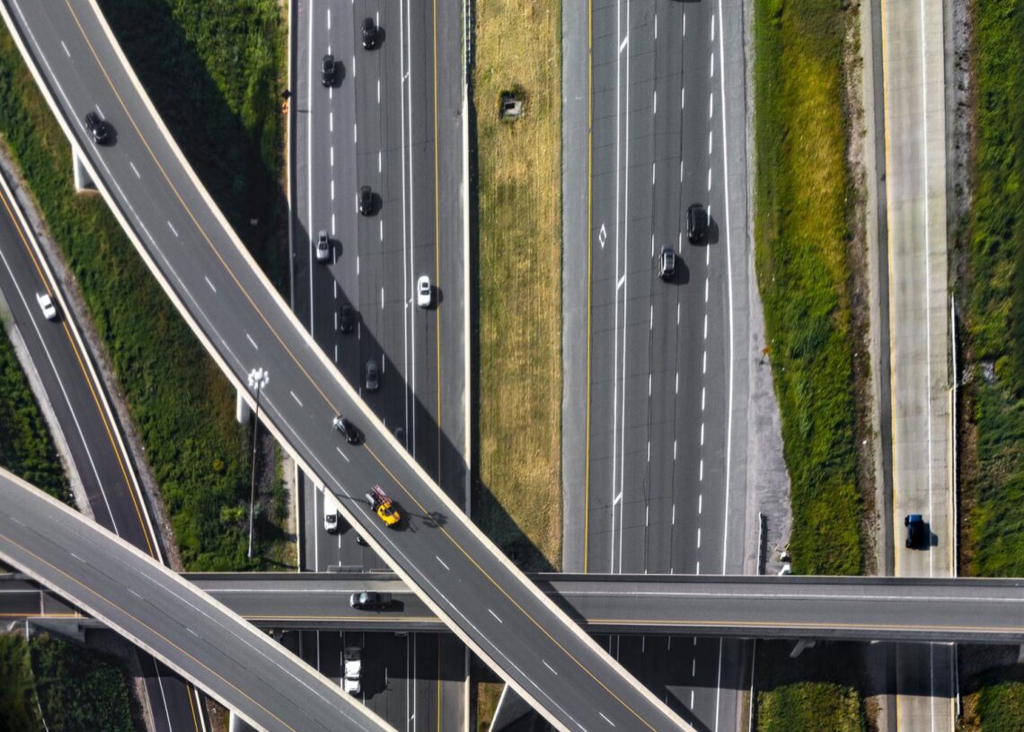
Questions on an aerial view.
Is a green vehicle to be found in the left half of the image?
No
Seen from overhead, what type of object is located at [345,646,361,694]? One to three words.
vehicle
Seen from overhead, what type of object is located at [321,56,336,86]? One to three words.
car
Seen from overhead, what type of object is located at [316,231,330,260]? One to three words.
car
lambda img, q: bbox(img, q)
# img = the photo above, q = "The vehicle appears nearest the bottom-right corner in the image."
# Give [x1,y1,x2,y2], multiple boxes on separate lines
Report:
[904,516,924,547]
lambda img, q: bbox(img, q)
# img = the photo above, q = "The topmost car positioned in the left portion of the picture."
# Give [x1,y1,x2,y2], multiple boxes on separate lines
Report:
[362,16,376,49]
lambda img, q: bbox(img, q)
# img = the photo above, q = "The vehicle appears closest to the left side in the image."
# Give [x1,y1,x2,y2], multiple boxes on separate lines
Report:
[35,288,59,324]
